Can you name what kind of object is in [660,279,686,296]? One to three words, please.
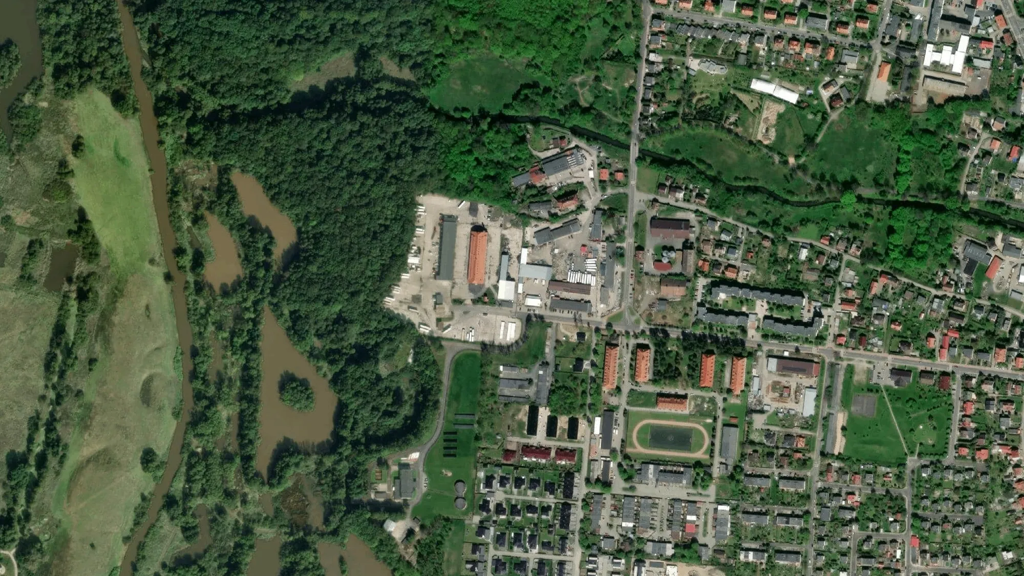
barn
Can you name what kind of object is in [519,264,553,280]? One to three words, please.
building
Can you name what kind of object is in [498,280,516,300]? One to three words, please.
building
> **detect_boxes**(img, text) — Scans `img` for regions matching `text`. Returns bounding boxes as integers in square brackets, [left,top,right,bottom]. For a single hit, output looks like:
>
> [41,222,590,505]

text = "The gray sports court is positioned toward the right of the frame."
[853,394,876,415]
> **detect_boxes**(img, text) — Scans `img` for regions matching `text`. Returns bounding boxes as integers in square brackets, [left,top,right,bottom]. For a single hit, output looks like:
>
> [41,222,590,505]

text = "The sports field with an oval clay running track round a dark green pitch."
[623,417,712,459]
